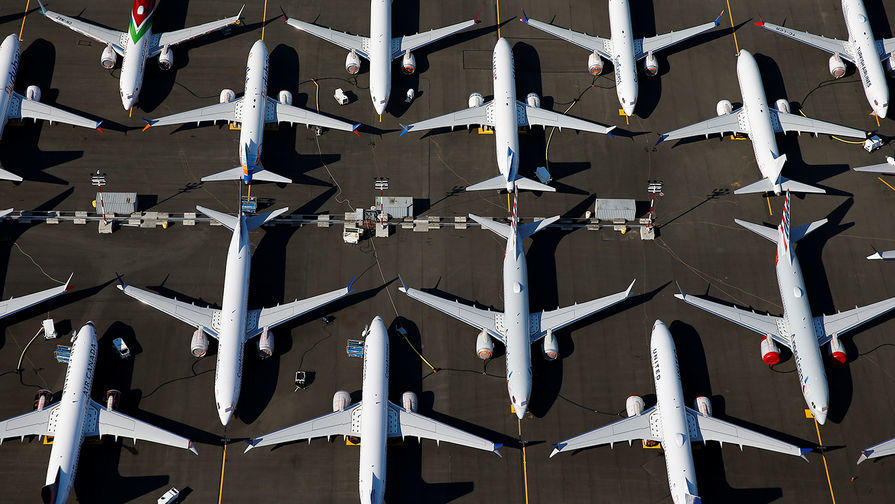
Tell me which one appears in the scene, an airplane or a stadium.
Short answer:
airplane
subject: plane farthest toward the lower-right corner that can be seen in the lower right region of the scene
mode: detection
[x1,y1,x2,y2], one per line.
[857,438,895,466]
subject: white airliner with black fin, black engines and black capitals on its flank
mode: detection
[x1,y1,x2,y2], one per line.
[0,322,197,504]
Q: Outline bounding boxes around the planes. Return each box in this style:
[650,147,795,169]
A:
[0,38,101,147]
[758,0,895,118]
[677,190,895,424]
[551,321,811,504]
[399,39,617,194]
[0,322,197,504]
[142,40,362,184]
[399,186,636,420]
[0,273,73,322]
[857,438,895,466]
[243,316,505,504]
[279,0,482,115]
[521,0,723,115]
[39,0,244,110]
[657,51,875,196]
[116,178,356,426]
